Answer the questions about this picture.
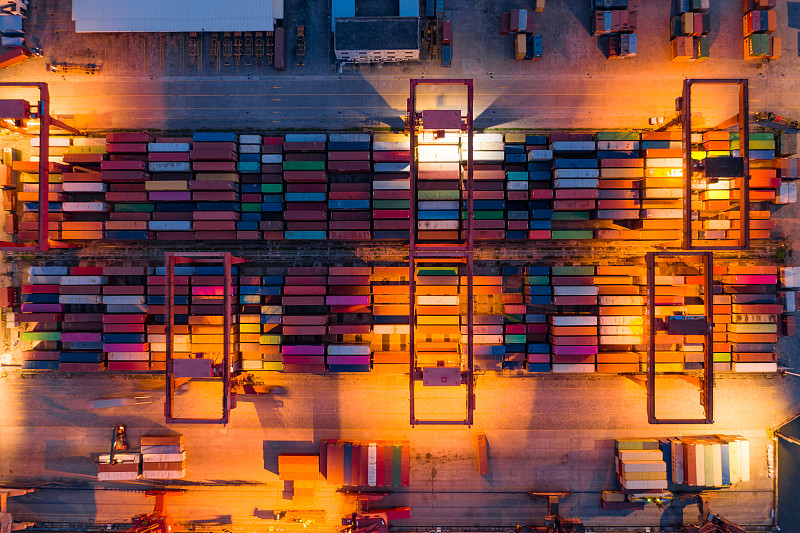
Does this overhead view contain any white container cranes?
No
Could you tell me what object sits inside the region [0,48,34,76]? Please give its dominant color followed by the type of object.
red shipping container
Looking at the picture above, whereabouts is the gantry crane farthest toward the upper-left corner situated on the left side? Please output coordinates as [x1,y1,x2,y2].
[0,82,98,251]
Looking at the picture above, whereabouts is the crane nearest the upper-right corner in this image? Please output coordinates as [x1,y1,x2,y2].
[645,79,751,251]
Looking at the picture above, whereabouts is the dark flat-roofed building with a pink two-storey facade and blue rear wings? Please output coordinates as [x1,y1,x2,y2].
[333,0,419,60]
